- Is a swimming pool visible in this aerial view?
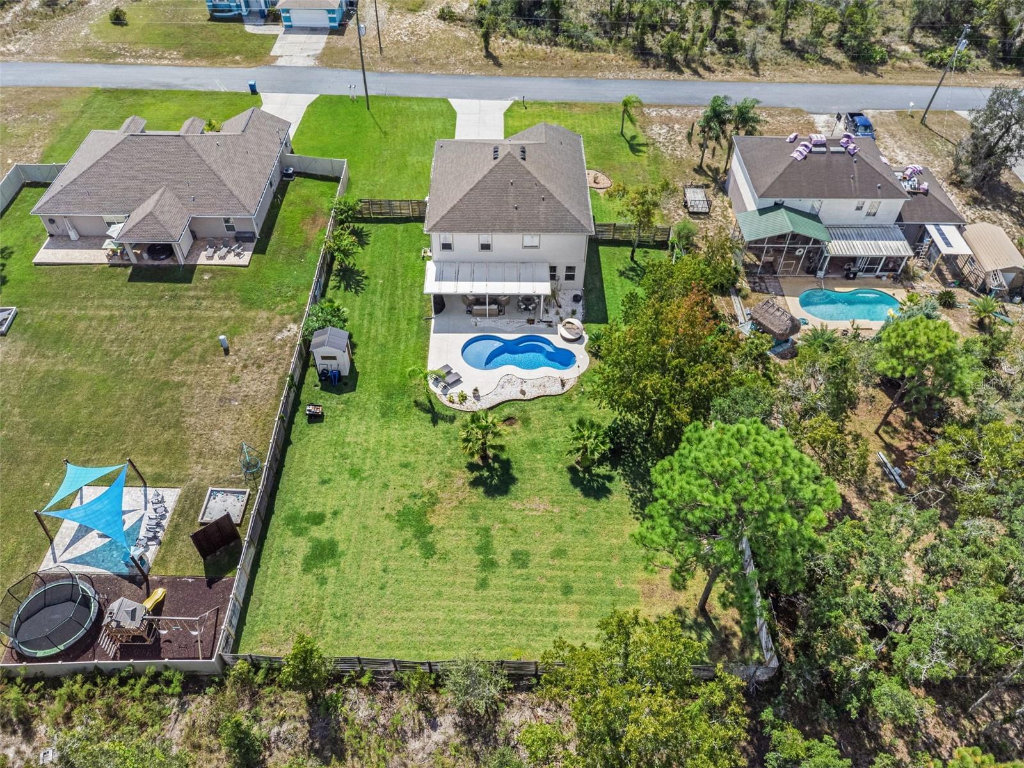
Yes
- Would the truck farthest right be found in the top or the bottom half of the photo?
top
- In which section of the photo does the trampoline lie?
bottom left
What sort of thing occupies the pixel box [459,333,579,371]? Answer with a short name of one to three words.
swimming pool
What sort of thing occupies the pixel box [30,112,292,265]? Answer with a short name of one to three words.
house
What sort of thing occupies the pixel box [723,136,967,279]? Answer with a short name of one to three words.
house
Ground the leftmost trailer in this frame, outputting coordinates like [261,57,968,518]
[682,171,717,207]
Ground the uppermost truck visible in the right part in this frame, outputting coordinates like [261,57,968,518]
[850,107,884,142]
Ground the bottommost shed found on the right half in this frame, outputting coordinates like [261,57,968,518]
[744,306,804,368]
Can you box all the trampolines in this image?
[0,559,106,658]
